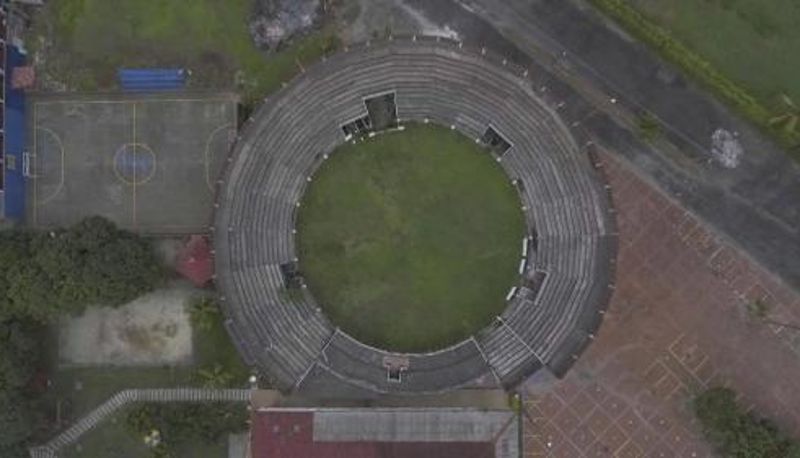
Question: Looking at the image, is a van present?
No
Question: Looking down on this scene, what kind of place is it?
sports ground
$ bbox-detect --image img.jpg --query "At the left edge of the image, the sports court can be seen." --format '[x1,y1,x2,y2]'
[24,95,239,238]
